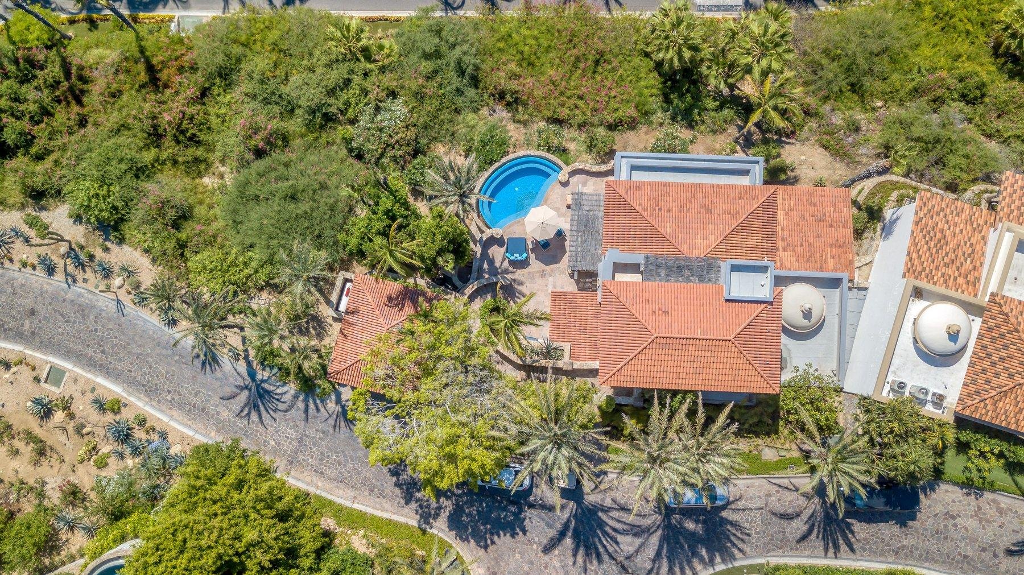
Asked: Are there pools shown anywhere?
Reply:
Yes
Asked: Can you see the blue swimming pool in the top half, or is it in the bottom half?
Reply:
top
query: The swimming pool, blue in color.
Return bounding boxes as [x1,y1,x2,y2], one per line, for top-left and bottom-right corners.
[481,157,562,229]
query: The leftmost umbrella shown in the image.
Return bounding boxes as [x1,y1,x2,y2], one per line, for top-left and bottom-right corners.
[525,205,560,241]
